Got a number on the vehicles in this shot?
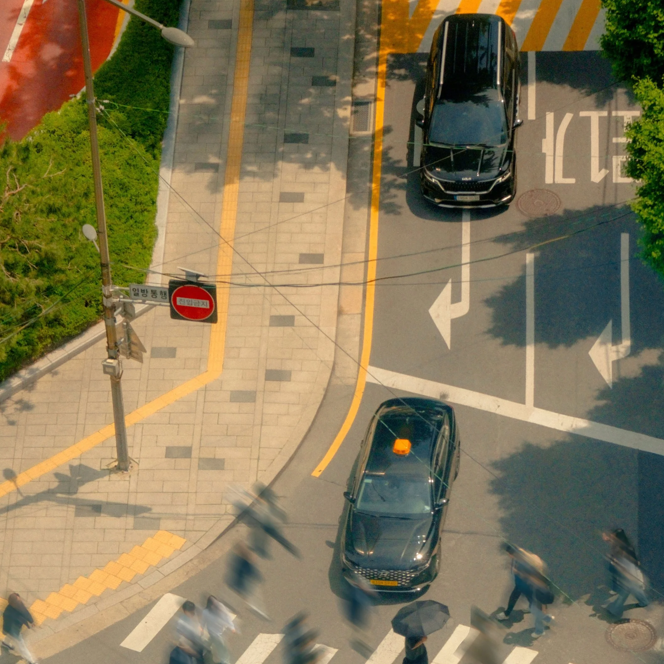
2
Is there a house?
No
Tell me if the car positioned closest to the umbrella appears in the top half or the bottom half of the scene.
bottom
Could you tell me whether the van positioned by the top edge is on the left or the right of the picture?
right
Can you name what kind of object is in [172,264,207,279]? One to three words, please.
solar panel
